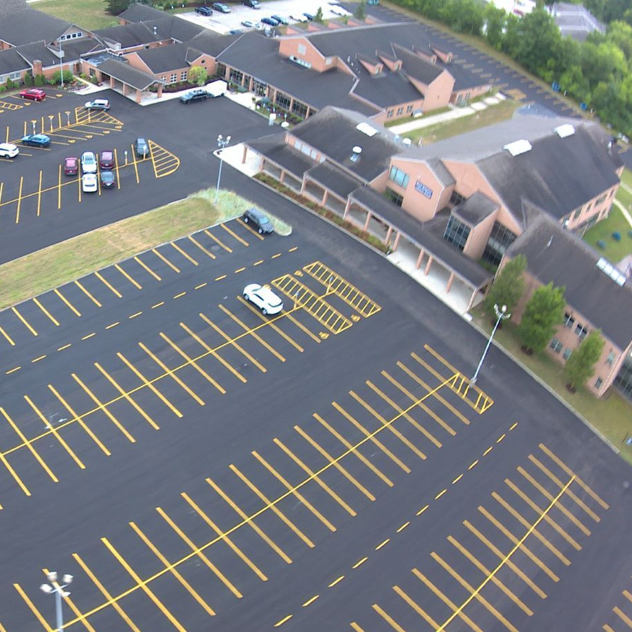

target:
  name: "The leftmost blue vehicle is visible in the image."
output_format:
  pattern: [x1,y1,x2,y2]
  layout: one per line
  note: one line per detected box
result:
[20,133,53,148]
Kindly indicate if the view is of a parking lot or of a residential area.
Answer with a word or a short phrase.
parking lot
